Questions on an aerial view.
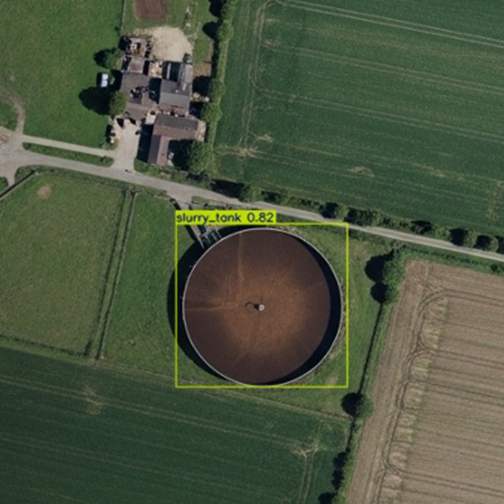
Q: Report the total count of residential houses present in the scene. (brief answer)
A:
3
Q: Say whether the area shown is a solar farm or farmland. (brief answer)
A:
farmland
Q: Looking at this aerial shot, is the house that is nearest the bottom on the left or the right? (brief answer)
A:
left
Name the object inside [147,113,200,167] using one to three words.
house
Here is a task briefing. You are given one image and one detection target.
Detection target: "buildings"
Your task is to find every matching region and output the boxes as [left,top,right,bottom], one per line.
[159,61,195,113]
[147,113,200,167]
[122,71,157,120]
